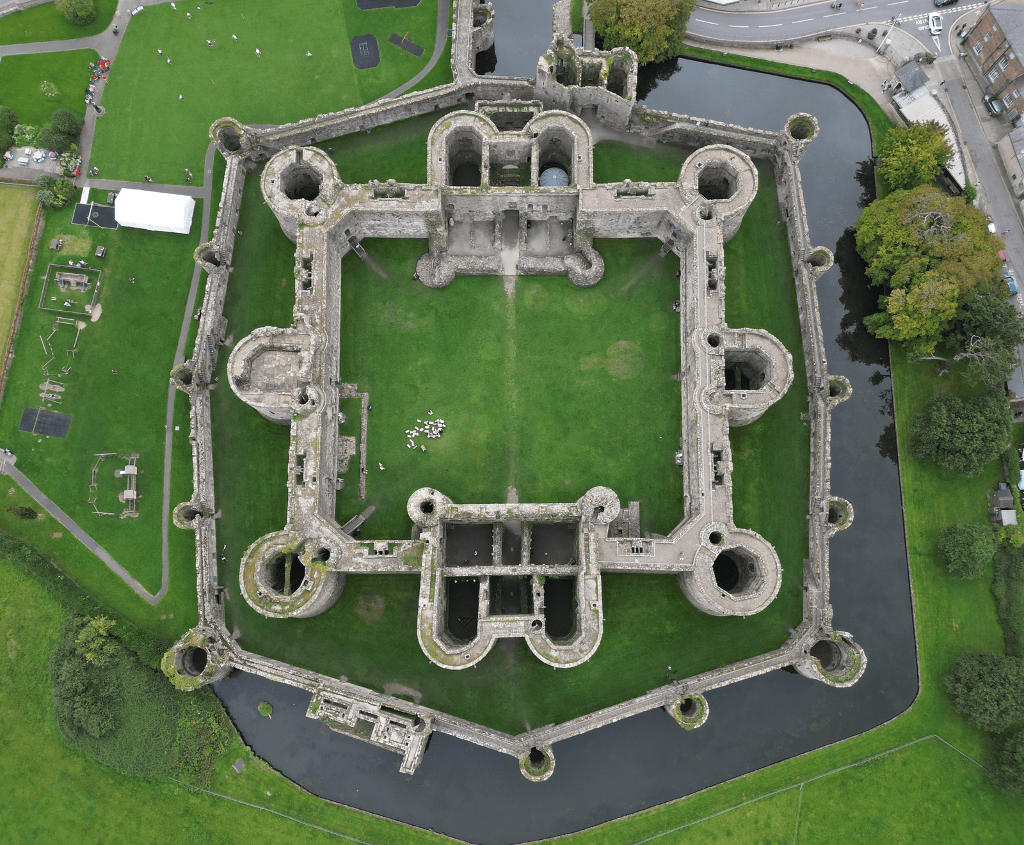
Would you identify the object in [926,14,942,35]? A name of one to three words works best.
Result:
car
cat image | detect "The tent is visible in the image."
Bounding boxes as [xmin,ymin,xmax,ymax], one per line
[115,190,199,239]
